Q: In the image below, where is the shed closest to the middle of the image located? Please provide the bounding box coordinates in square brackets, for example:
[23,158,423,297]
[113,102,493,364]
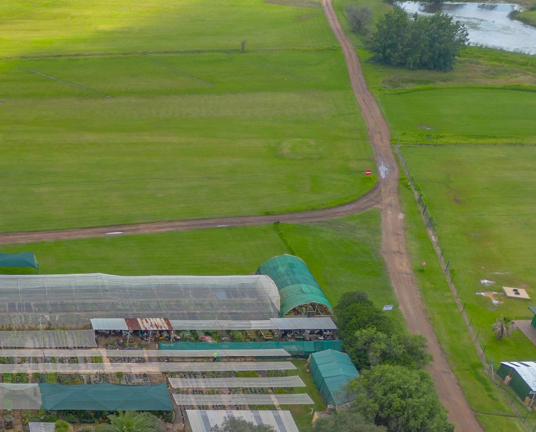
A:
[267,317,337,340]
